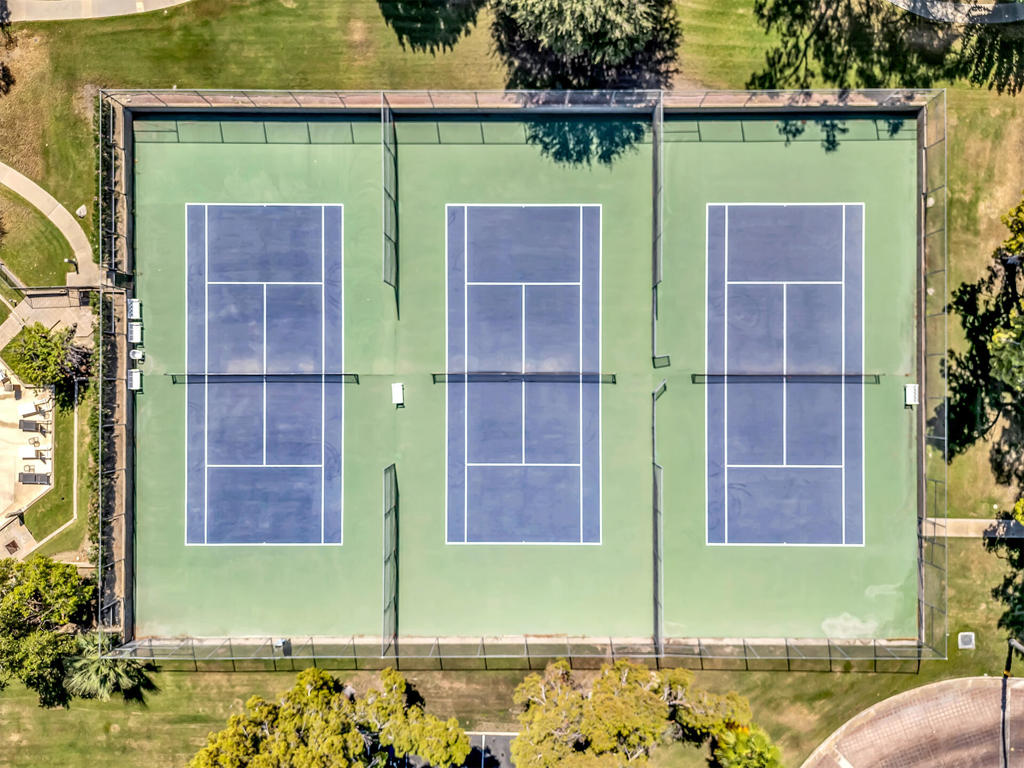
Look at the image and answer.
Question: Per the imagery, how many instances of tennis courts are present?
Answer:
3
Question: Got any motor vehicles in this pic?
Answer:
No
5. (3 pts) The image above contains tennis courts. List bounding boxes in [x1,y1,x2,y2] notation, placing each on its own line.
[393,113,653,637]
[133,113,393,637]
[653,113,916,637]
